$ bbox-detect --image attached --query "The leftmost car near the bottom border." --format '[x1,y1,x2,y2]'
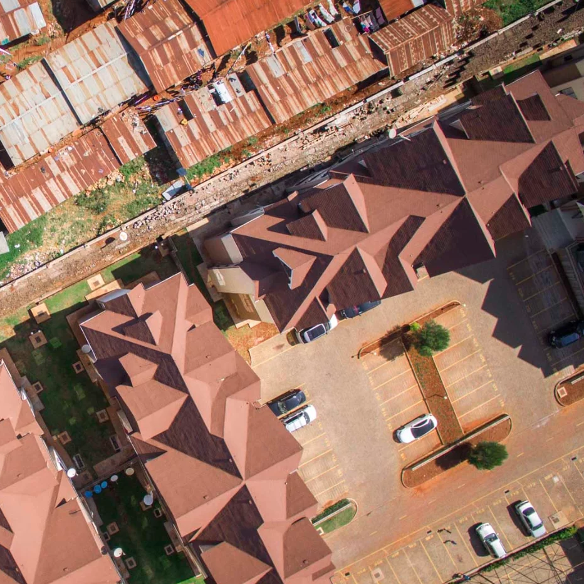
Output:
[474,518,509,561]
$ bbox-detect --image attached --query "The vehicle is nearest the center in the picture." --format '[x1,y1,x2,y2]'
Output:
[288,318,335,348]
